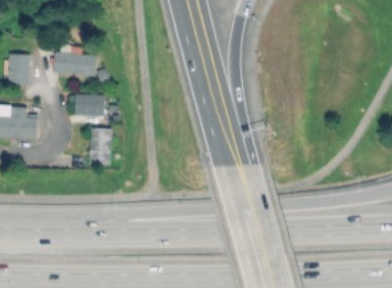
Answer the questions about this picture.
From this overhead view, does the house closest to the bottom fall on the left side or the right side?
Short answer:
left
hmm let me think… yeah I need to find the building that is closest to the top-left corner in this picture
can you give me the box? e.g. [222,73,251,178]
[4,54,30,86]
